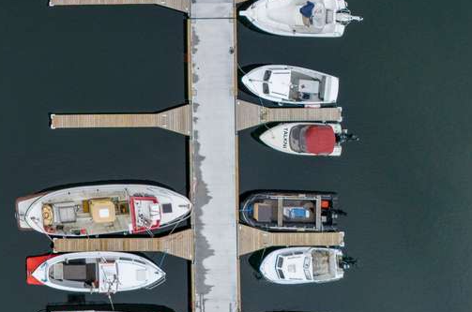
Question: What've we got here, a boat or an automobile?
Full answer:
Looking from above, you can make out a boat.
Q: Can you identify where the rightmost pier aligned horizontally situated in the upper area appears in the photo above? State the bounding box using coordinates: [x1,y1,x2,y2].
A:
[237,93,342,136]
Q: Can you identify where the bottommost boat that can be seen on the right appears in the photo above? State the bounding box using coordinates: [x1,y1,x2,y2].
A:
[259,245,358,283]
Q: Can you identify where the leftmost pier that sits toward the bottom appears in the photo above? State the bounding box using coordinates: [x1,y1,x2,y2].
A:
[52,223,193,266]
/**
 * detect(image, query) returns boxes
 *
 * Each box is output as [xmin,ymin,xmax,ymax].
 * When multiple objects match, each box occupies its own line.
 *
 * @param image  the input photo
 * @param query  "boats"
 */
[241,191,342,231]
[259,122,360,156]
[239,0,364,37]
[14,185,195,238]
[26,252,168,309]
[241,65,339,105]
[259,245,358,283]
